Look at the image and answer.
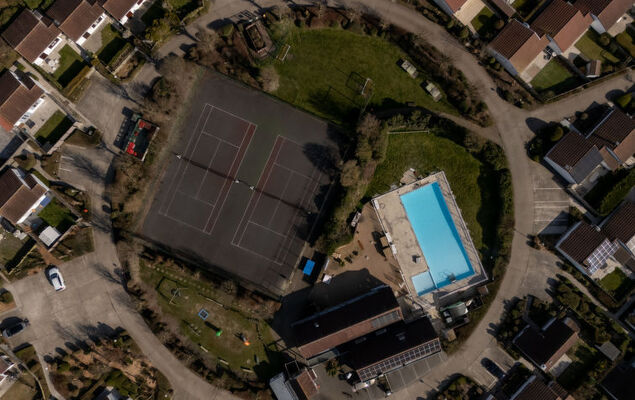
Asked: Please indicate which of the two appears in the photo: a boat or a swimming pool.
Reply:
swimming pool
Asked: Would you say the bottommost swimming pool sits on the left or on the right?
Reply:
right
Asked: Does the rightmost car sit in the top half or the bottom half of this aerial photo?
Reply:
bottom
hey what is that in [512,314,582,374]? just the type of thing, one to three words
house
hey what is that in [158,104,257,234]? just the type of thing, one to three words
tennis court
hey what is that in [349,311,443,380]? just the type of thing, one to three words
building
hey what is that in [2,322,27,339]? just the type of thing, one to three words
car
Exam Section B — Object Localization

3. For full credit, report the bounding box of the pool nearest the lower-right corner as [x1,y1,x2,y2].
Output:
[372,172,487,307]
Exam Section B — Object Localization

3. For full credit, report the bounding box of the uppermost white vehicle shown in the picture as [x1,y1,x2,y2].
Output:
[50,267,65,291]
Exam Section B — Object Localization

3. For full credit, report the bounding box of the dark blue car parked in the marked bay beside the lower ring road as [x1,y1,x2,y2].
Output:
[484,360,507,381]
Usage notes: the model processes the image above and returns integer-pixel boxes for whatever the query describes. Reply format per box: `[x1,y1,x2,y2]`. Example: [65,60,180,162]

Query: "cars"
[2,322,27,339]
[484,360,507,381]
[50,267,65,291]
